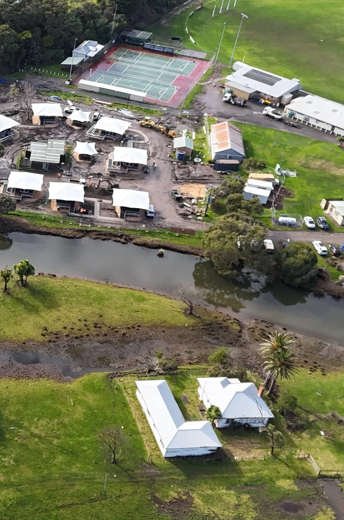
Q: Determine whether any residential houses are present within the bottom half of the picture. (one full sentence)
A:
Yes, a residential house appears within the bottom half of the picture.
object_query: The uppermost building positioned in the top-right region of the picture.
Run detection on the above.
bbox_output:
[225,61,312,106]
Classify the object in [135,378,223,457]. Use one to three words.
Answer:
building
